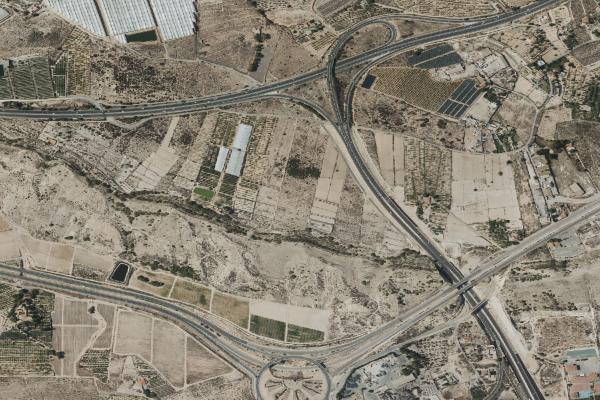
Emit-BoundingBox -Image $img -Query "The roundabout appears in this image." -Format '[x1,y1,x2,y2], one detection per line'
[256,355,330,400]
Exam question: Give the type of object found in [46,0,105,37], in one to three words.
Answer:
greenhouse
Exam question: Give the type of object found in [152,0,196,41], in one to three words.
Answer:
greenhouse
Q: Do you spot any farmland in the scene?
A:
Yes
